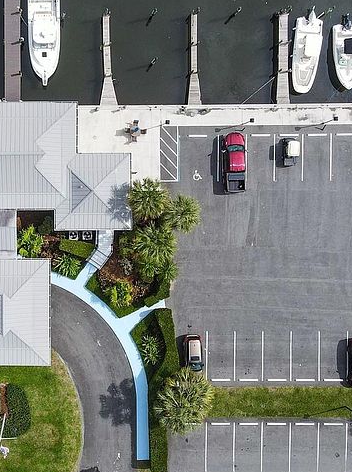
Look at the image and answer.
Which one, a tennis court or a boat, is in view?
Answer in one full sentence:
This aerial view contains a boat.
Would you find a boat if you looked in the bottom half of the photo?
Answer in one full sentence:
No, looking in the bottom half of the photo, there is no boat.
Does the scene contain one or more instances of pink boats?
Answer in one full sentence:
No, there is no pink boat in the image.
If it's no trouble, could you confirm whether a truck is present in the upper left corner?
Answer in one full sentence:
No, the scene shows no truck in the upper left corner.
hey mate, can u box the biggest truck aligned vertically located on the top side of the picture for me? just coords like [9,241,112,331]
[222,132,248,194]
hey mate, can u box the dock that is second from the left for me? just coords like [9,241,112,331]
[99,9,118,105]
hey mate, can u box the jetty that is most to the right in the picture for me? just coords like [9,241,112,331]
[271,8,297,105]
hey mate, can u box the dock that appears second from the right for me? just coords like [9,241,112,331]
[185,9,205,105]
